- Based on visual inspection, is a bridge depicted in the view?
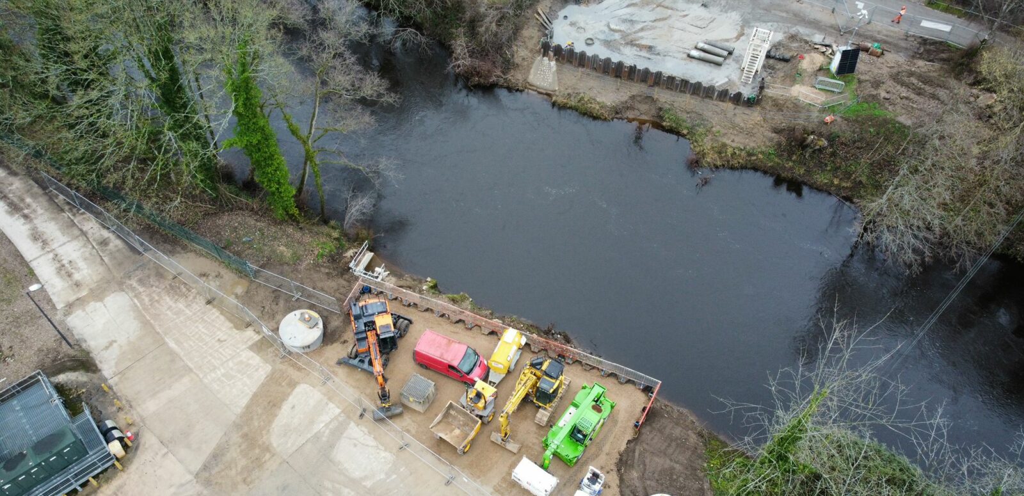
No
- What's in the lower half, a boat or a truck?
truck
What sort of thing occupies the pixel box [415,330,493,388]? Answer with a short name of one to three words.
van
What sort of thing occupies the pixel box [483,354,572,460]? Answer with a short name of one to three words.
work vehicle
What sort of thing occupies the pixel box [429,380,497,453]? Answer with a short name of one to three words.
truck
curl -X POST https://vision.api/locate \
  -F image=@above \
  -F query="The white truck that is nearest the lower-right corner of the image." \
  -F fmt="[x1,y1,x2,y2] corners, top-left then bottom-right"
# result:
[563,467,605,496]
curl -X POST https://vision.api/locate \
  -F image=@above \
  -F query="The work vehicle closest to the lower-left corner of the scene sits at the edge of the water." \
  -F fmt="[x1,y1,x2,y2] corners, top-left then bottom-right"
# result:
[337,296,426,422]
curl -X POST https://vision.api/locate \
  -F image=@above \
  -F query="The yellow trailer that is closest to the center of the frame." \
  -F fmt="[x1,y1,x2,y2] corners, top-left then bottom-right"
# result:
[488,332,528,388]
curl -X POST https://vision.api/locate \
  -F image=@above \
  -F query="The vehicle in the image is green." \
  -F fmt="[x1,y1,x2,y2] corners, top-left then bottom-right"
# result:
[538,377,615,473]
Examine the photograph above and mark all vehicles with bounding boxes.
[415,330,493,388]
[563,467,605,496]
[429,380,497,453]
[483,354,572,460]
[337,296,426,422]
[538,377,615,473]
